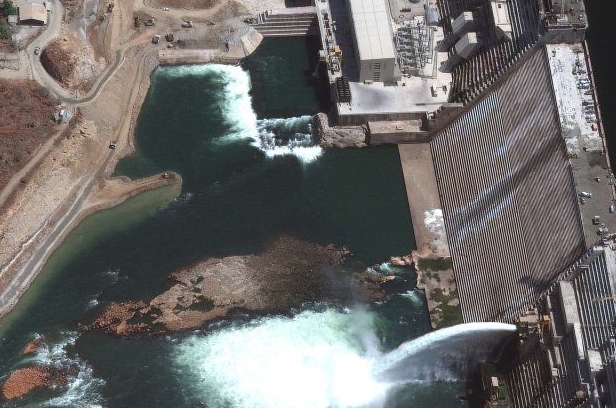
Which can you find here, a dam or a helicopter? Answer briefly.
dam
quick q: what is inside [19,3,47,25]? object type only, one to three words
building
